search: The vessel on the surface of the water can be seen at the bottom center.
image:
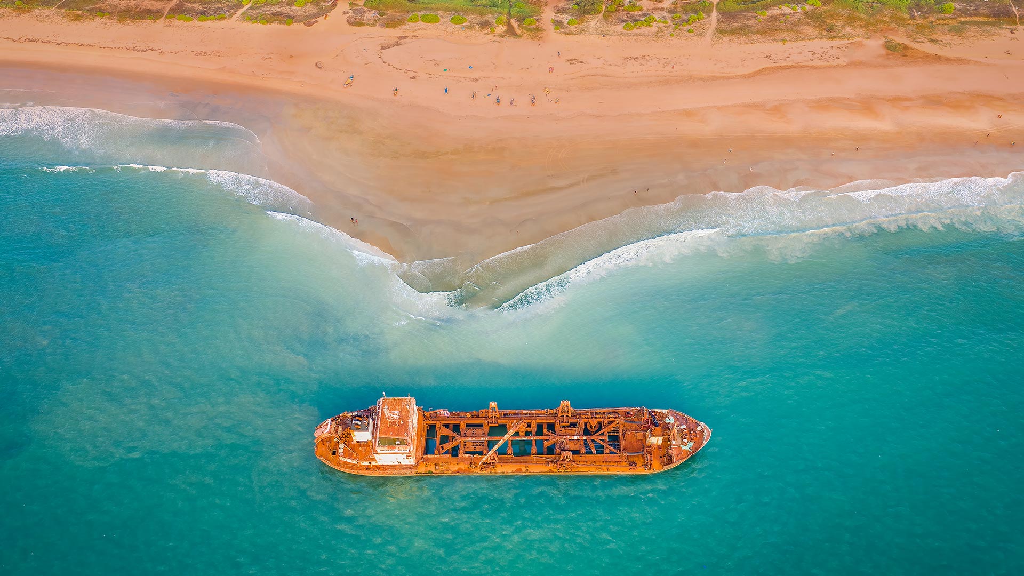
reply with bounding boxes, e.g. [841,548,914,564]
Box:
[313,392,714,475]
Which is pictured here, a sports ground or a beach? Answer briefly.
beach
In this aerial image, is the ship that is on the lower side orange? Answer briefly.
Yes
